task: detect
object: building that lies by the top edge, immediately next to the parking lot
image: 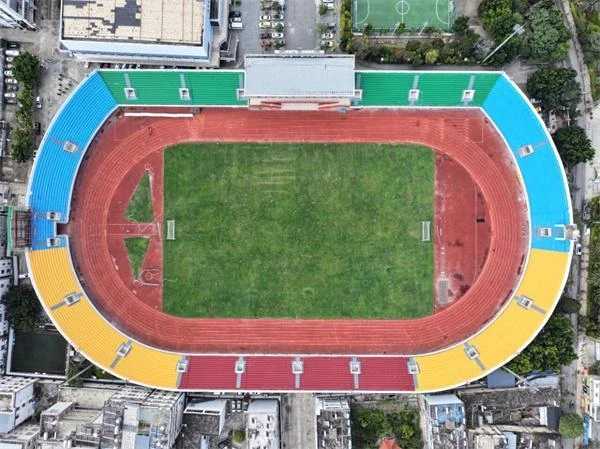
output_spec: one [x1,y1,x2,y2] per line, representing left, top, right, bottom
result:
[59,0,230,69]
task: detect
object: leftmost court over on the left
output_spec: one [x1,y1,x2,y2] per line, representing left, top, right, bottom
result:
[7,326,72,377]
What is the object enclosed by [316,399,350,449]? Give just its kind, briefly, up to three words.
house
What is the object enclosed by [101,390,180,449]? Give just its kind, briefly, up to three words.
building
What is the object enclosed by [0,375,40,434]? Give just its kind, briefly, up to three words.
building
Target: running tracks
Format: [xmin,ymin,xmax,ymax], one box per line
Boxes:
[54,107,530,354]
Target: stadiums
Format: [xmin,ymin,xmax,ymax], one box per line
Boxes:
[26,50,579,392]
